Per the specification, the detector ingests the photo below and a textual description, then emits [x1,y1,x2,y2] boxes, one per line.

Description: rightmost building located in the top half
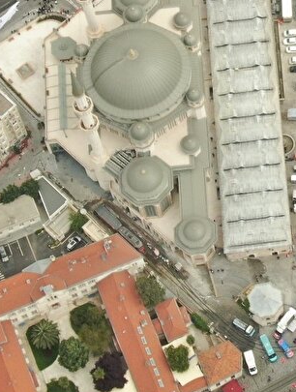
[208,0,293,259]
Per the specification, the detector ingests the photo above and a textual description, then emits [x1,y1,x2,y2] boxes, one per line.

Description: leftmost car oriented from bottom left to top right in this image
[66,236,82,252]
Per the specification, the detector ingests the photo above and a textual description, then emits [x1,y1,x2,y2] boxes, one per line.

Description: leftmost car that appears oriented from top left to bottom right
[235,318,254,335]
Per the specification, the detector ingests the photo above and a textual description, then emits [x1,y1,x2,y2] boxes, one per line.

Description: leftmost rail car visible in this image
[96,205,122,231]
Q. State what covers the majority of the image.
buildings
